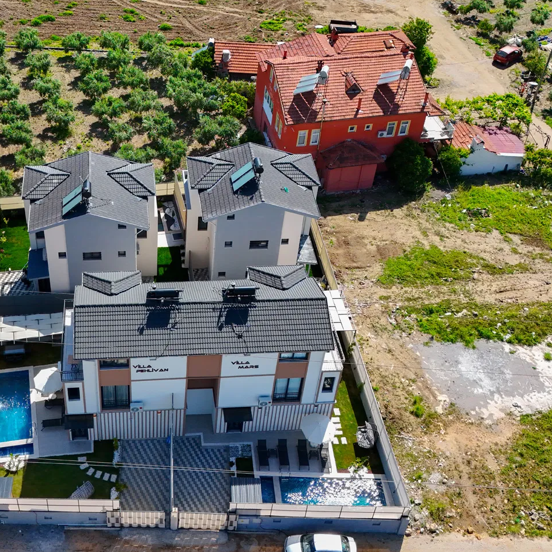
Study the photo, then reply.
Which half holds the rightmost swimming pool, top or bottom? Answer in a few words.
bottom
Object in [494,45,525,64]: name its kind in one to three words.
car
